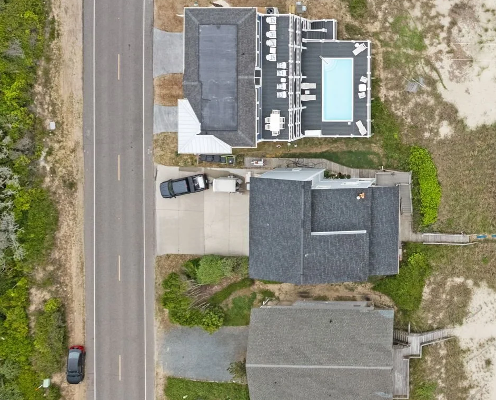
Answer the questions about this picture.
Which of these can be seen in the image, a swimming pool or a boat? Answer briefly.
swimming pool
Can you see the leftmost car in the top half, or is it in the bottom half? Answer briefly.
bottom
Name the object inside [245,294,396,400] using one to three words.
house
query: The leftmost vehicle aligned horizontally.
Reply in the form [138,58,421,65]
[160,173,213,199]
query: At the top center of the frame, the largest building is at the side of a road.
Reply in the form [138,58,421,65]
[177,6,312,154]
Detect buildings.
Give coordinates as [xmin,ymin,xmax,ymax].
[245,294,396,400]
[177,6,312,154]
[250,169,400,284]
